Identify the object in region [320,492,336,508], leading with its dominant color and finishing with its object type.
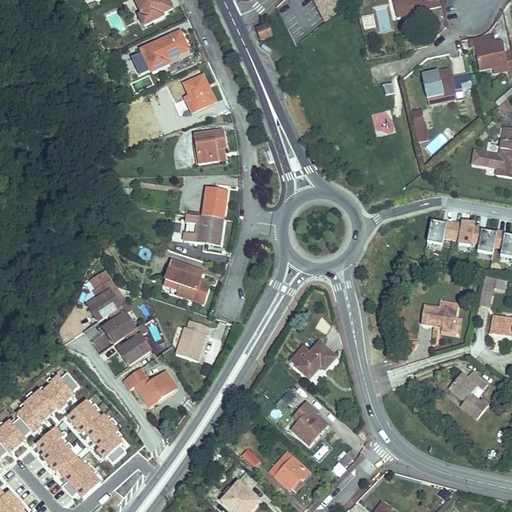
white vehicle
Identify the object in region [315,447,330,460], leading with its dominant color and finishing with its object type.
white vehicle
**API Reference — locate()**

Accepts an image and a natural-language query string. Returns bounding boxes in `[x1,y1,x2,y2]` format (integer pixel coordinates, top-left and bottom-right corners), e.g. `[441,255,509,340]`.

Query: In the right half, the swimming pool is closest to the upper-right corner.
[374,6,392,34]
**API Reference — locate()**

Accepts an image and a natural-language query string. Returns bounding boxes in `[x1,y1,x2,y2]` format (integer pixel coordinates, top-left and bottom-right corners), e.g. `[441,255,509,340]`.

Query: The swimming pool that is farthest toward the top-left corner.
[104,8,128,34]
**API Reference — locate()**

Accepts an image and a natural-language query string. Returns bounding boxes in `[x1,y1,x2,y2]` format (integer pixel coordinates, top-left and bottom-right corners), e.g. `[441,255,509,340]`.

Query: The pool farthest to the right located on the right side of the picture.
[424,133,448,156]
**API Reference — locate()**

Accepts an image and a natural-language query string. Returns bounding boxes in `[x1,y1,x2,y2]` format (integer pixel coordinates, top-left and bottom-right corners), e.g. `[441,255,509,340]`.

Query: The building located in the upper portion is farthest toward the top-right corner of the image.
[469,34,512,80]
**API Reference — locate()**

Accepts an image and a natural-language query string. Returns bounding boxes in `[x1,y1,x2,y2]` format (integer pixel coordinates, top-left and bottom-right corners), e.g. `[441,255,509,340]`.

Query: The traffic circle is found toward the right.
[275,186,366,276]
